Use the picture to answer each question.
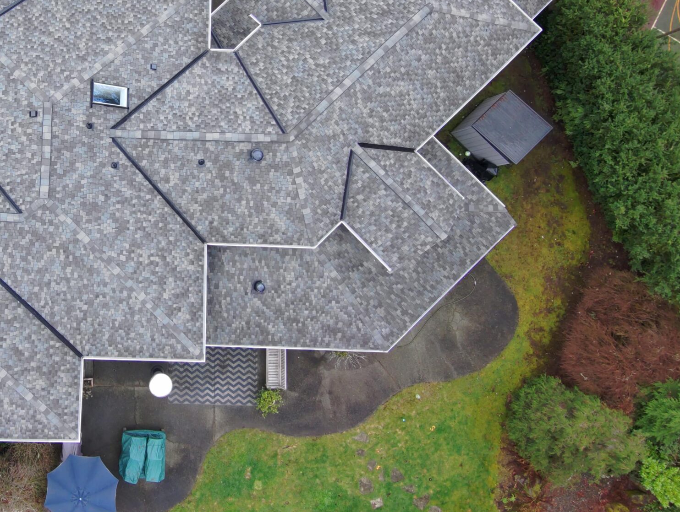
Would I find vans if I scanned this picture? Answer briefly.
No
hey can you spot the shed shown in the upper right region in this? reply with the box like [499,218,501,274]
[450,89,554,165]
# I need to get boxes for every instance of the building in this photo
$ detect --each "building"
[0,0,555,444]
[450,89,554,165]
